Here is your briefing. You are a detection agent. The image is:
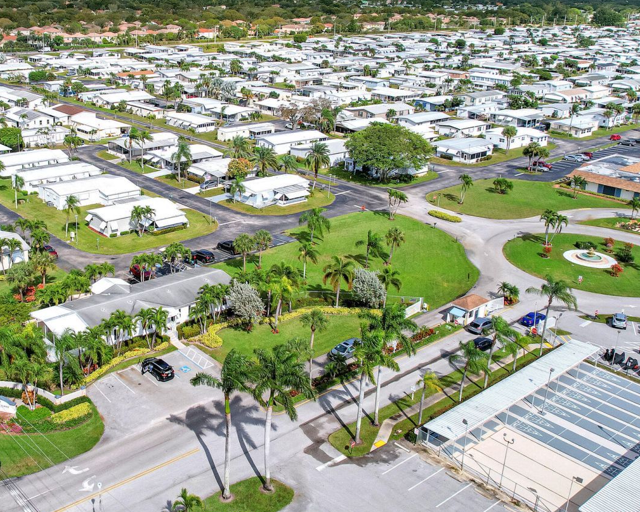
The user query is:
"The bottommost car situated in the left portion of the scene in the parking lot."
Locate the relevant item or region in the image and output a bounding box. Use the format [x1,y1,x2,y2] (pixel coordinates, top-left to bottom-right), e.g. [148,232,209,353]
[143,357,178,381]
